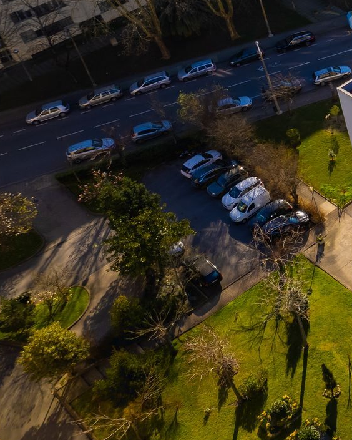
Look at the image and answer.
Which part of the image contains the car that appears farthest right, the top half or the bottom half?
top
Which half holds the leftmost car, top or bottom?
top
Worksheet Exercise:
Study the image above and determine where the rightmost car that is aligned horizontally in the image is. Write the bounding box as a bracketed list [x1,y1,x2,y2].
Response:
[312,64,352,85]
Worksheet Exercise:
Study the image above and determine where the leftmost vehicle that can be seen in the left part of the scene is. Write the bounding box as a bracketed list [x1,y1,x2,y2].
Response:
[28,101,68,124]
